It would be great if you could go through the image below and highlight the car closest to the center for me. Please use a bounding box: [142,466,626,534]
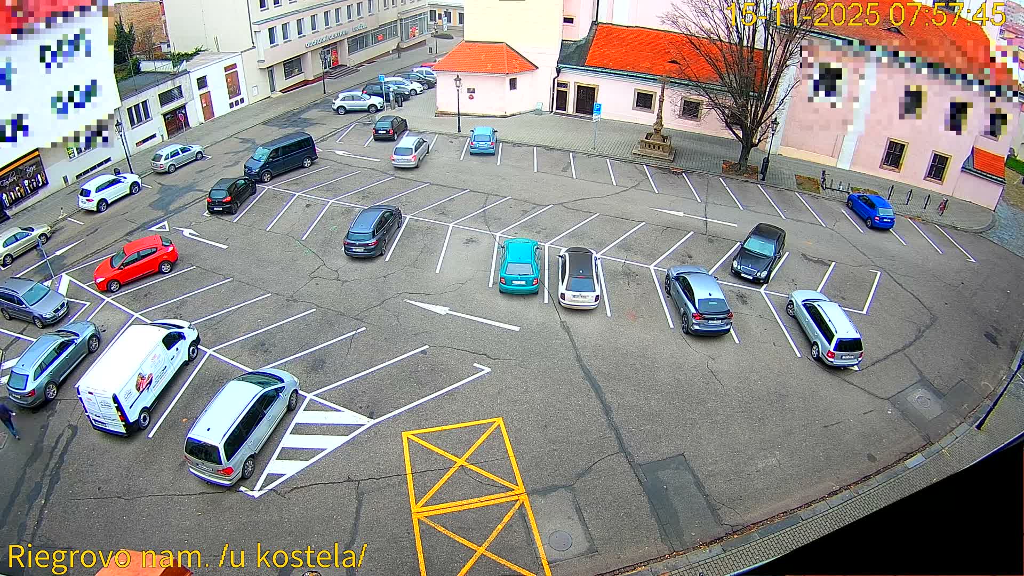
[496,236,545,291]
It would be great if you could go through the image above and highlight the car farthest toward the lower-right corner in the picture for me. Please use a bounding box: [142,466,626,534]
[788,293,869,368]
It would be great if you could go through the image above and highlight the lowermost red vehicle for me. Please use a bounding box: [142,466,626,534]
[91,236,176,293]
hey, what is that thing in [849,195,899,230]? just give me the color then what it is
blue car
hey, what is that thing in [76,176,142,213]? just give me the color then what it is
white car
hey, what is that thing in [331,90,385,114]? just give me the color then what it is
white car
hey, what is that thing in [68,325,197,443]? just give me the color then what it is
white van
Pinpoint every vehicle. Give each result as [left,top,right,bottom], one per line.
[0,276,71,328]
[179,370,297,490]
[371,114,407,141]
[242,133,319,183]
[331,90,385,114]
[849,195,899,230]
[390,137,429,167]
[201,178,255,215]
[393,73,435,89]
[423,62,439,70]
[149,145,205,173]
[0,324,99,411]
[68,325,197,443]
[339,206,401,259]
[469,129,498,154]
[0,225,51,265]
[788,293,869,368]
[667,269,737,335]
[733,218,786,282]
[551,245,604,306]
[76,176,142,213]
[496,236,545,291]
[366,83,412,100]
[91,236,176,293]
